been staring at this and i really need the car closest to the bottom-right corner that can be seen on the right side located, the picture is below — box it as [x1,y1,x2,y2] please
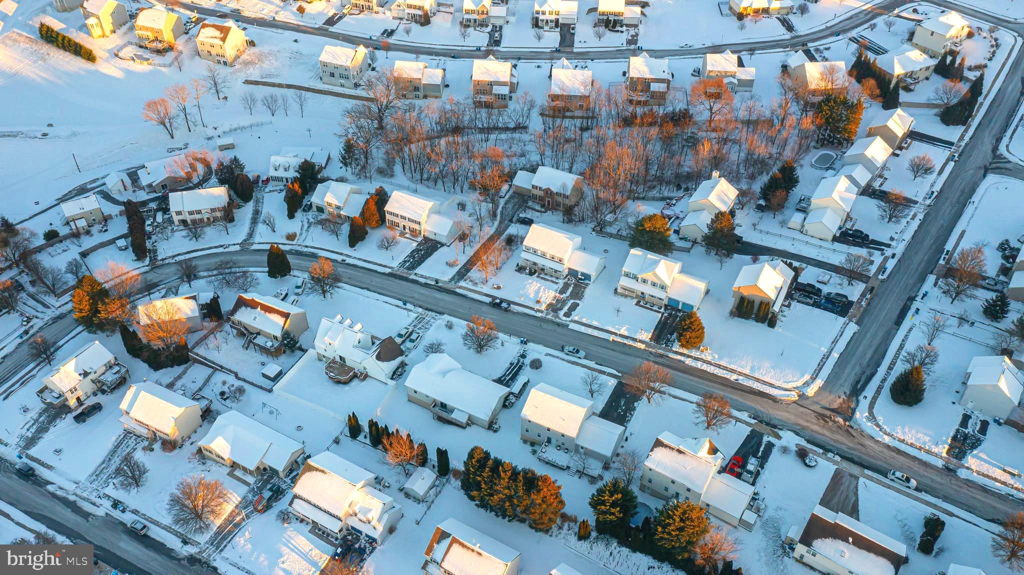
[889,470,918,488]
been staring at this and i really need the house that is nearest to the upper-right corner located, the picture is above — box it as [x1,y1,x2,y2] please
[911,14,978,59]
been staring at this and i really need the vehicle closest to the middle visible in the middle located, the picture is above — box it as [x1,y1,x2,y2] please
[489,297,514,312]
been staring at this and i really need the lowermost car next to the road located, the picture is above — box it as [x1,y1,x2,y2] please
[122,519,150,537]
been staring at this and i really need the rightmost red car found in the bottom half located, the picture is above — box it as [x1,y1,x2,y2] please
[727,454,745,475]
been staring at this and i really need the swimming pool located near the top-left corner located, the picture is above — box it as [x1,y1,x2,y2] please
[131,50,151,63]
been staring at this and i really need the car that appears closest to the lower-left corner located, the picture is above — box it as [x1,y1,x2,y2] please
[11,457,37,475]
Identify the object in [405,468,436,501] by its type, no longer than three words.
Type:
shed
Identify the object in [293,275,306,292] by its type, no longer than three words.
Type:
vehicle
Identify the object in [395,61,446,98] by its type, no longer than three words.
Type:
house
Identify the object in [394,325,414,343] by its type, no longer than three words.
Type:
car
